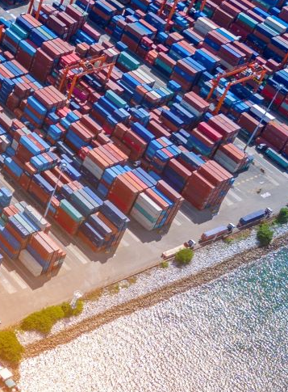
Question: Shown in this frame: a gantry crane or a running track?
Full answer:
I can see a gantry crane in this picture.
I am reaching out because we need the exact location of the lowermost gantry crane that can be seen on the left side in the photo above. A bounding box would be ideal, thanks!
[56,52,116,101]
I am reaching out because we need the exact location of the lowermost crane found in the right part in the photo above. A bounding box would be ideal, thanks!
[198,61,266,115]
